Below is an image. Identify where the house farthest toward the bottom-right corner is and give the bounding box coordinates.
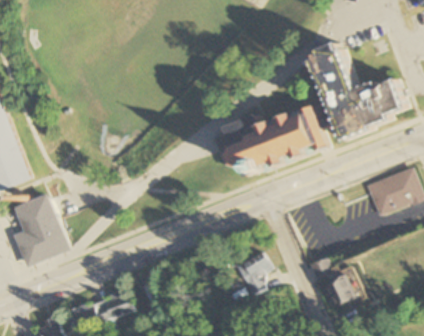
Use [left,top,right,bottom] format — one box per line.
[333,268,366,304]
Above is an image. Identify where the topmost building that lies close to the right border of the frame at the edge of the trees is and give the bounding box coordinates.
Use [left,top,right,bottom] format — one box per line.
[304,44,408,140]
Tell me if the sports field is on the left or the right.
left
